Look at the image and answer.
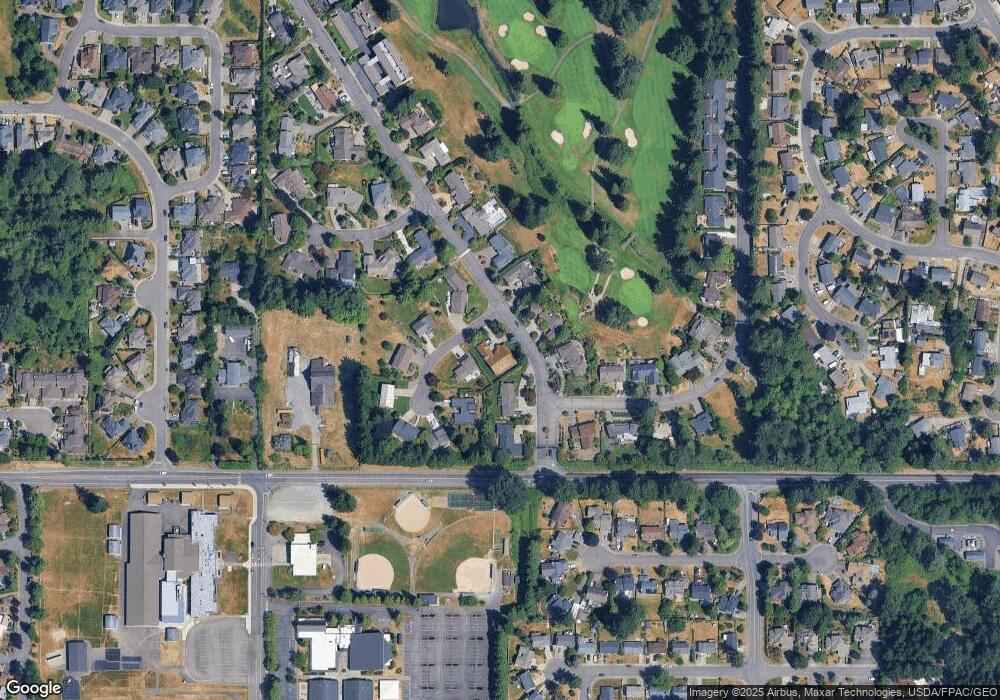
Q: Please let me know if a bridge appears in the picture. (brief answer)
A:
No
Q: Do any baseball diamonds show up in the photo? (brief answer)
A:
Yes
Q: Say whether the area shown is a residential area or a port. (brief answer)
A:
residential area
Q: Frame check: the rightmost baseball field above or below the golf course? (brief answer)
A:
below it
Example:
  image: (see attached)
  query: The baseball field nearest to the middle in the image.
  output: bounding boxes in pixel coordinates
[390,490,434,531]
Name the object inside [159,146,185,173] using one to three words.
house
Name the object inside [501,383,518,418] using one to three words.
house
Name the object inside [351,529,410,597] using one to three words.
baseball field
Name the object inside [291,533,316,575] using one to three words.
building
